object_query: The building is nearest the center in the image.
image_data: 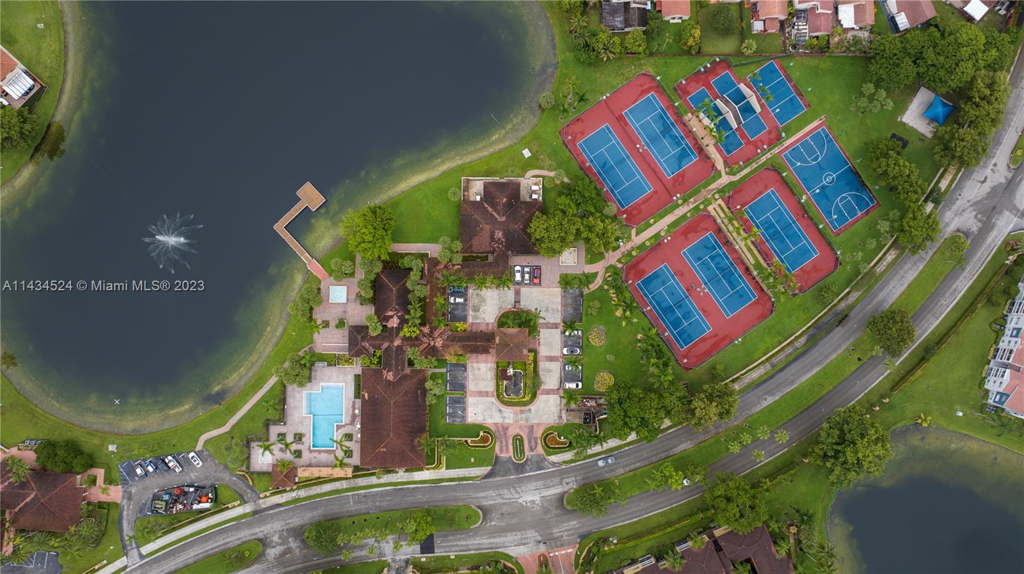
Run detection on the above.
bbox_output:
[348,181,543,468]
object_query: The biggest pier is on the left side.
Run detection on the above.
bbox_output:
[273,182,330,280]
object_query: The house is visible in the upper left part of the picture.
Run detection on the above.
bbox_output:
[0,44,40,108]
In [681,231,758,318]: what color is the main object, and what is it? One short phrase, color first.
blue tennis court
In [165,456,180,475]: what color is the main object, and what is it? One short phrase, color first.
white vehicle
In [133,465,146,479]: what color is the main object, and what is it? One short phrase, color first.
white vehicle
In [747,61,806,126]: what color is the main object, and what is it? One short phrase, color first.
blue sports court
